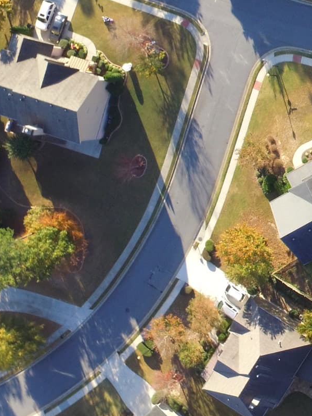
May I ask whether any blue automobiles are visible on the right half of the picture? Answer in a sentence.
No, the scene shows no blue automobile on the right half of the picture.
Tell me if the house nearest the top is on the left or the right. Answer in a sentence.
It is on the left.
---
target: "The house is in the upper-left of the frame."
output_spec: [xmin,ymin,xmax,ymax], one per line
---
[0,35,113,140]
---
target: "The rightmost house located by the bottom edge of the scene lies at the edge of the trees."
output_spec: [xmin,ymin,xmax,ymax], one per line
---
[202,291,312,416]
